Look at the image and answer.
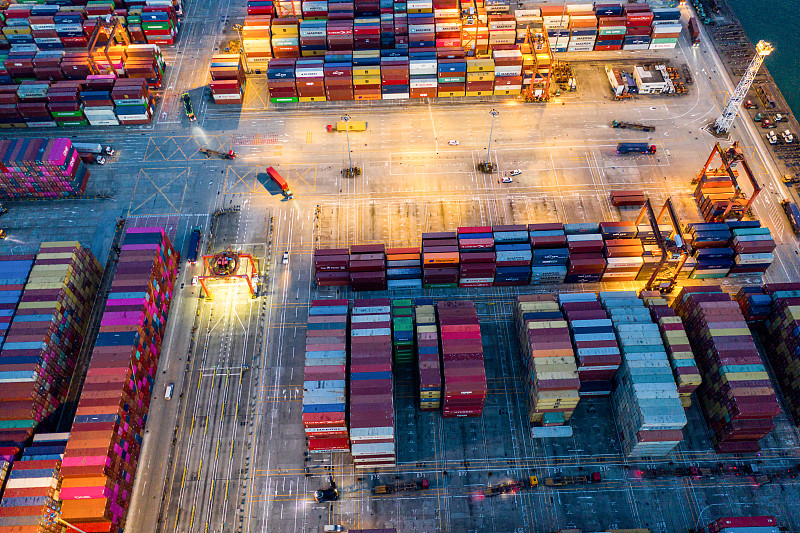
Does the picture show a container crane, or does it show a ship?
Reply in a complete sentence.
The one in the frame is a container crane.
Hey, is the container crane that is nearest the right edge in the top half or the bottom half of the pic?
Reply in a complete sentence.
You can find the container crane that is nearest the right edge in the top half.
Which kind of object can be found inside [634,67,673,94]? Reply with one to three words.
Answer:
building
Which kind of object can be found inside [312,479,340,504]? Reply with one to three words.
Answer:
work vehicle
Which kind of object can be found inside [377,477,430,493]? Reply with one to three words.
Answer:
vehicle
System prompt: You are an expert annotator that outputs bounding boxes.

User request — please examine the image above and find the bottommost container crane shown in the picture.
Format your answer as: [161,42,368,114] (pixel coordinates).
[193,249,259,306]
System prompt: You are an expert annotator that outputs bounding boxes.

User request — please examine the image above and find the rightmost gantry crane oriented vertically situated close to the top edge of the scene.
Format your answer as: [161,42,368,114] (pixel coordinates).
[523,25,559,102]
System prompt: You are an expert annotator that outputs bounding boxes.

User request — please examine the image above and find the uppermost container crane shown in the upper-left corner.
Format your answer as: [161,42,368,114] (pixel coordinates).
[78,20,127,74]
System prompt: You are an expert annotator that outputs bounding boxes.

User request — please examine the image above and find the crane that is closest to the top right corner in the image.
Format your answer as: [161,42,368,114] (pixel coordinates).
[686,140,765,221]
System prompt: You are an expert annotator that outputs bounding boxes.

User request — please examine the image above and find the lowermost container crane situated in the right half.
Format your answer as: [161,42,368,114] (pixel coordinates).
[632,196,695,291]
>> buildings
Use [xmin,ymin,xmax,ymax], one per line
[634,67,673,94]
[613,71,632,95]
